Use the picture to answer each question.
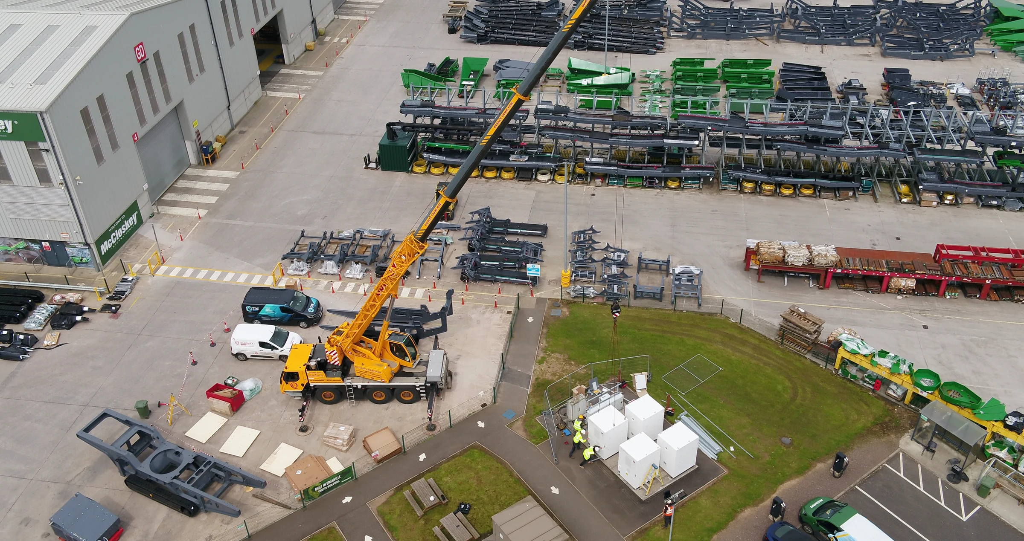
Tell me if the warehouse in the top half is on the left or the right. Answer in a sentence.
The warehouse in the top half appears in the left half of the scene.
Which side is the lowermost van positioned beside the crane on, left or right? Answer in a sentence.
You can find the lowermost van positioned beside the crane on the left side of the picture.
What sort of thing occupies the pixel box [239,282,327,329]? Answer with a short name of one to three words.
van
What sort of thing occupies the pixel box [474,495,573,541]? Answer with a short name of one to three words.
shed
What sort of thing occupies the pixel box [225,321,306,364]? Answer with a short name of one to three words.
van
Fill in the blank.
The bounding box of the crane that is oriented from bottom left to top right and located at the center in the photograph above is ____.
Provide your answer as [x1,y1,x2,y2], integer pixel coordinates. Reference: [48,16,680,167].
[283,0,599,434]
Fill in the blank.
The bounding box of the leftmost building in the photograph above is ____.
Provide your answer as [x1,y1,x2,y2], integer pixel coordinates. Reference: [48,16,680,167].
[0,0,347,270]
